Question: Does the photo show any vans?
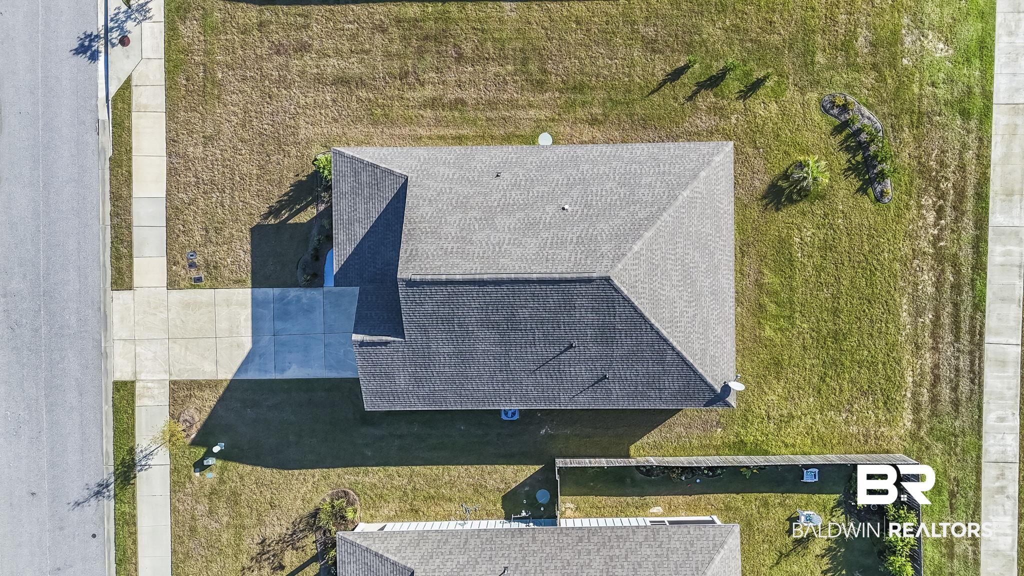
No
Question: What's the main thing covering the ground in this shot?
grass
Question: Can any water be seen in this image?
No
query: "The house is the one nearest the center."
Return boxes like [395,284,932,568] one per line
[331,141,737,412]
